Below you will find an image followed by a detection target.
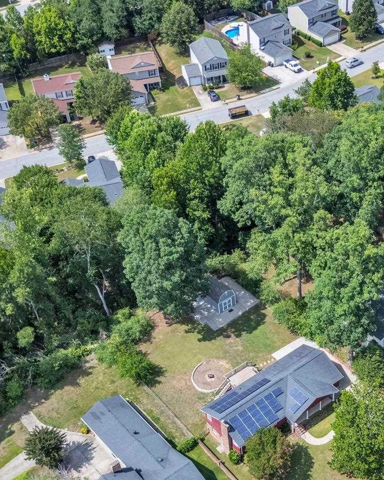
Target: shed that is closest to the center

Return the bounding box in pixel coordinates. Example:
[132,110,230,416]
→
[198,279,238,314]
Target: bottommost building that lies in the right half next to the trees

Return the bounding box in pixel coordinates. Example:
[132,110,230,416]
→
[199,345,344,462]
